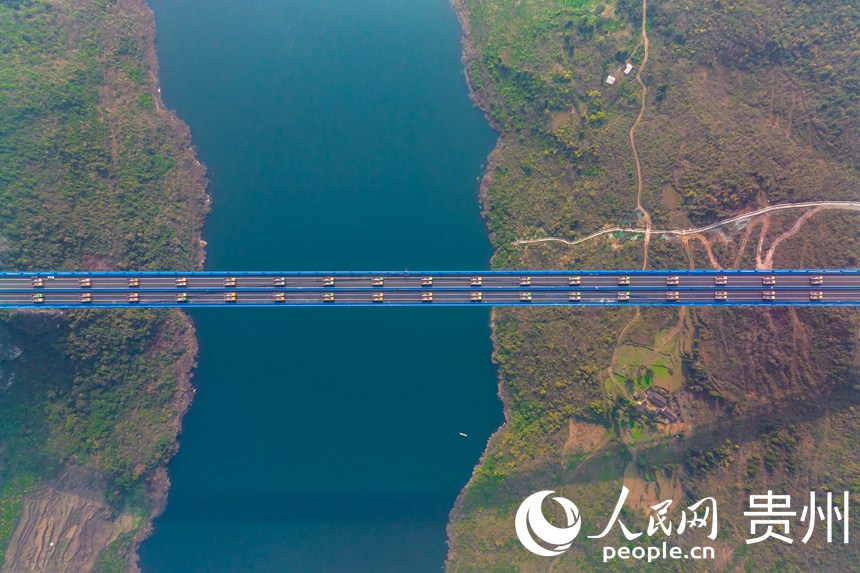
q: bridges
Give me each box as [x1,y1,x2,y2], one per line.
[0,267,860,310]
